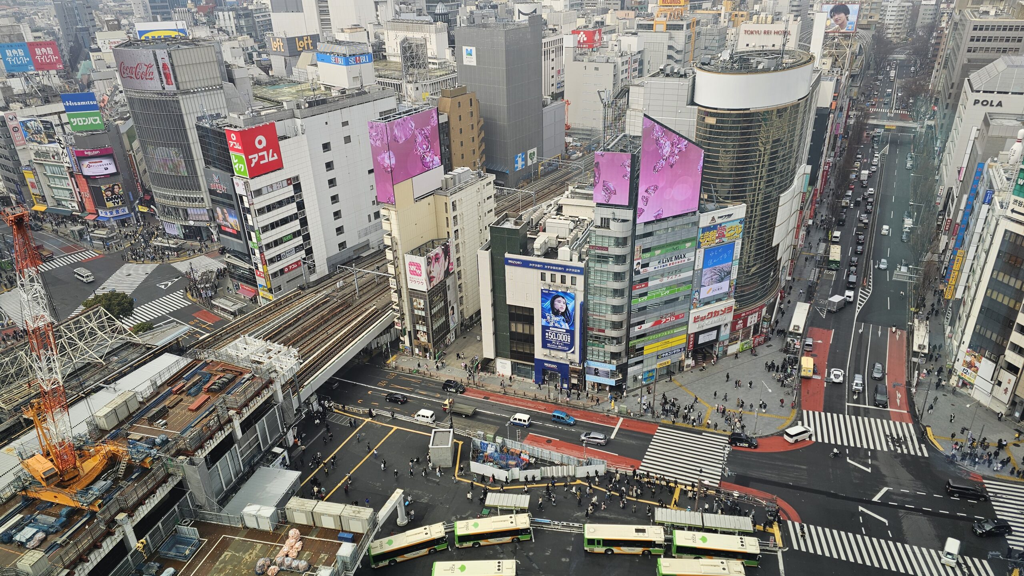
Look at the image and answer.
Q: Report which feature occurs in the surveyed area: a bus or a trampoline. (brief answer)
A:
bus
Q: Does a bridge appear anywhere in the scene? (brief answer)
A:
Yes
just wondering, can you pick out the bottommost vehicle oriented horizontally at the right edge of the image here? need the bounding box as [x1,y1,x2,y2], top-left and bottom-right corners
[971,518,1017,539]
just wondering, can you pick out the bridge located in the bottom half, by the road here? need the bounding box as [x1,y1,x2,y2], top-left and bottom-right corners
[146,254,390,460]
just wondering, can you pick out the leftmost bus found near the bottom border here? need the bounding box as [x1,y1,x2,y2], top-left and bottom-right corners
[367,519,455,568]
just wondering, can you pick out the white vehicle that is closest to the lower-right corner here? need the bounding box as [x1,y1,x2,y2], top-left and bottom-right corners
[941,528,965,566]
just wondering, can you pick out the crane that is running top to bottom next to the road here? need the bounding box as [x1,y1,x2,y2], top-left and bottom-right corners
[0,195,162,525]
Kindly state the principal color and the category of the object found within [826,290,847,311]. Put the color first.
gray truck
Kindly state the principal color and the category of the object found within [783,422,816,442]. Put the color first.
white vehicle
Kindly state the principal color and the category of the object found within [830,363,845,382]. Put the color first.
white car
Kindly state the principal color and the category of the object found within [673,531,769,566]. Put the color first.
white bus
